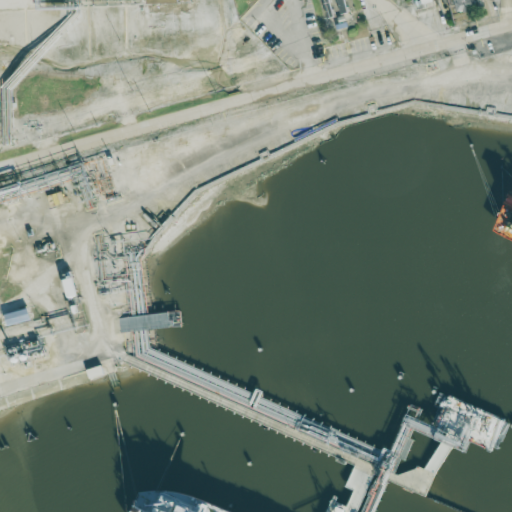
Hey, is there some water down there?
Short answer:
Yes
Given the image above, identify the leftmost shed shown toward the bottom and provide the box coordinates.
[3,306,30,326]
